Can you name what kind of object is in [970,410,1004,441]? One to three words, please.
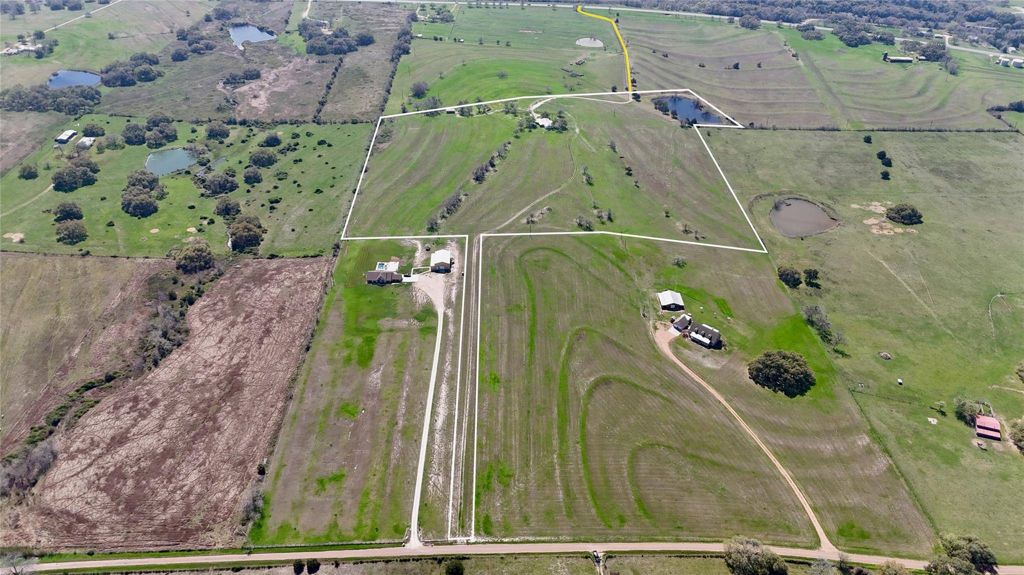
barn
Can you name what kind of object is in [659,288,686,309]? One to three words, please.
building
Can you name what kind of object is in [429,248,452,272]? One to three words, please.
building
